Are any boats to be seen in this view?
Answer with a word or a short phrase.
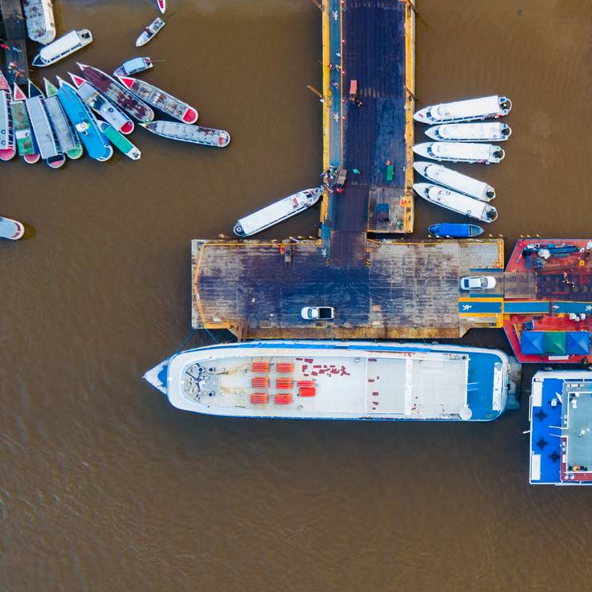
Yes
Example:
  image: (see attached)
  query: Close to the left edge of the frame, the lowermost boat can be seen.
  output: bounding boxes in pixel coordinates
[0,218,28,239]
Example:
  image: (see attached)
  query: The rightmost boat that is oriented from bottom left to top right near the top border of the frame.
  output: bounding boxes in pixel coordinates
[134,16,166,48]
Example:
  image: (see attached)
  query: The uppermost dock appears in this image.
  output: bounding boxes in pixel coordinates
[0,0,35,86]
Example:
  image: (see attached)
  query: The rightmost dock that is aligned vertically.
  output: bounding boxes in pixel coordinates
[319,0,417,267]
